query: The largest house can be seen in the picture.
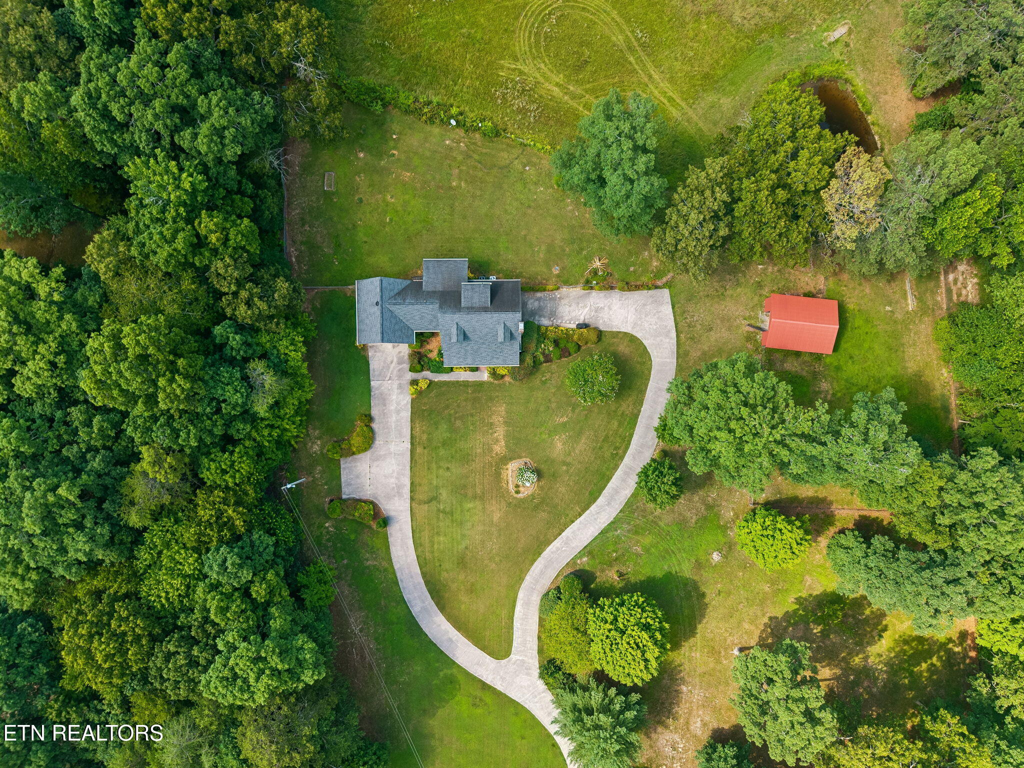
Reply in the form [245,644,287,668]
[356,258,524,369]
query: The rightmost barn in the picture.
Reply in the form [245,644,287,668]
[757,294,839,354]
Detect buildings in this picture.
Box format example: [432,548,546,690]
[757,294,839,354]
[356,258,524,369]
